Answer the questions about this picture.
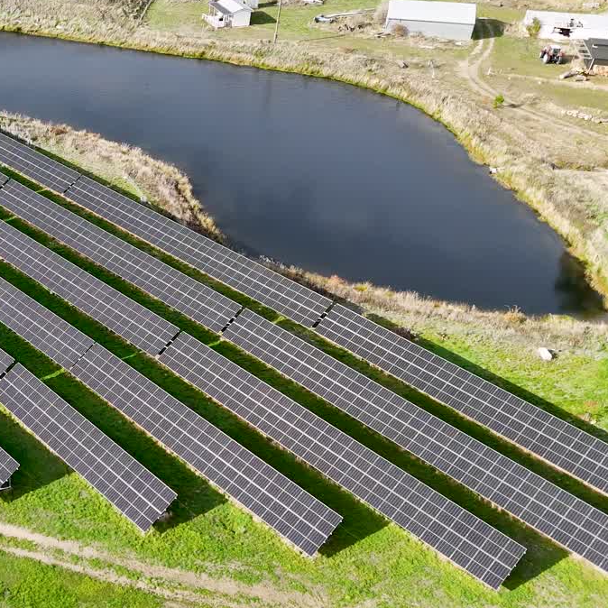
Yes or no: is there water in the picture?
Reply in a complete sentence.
Yes, the picture does contain water.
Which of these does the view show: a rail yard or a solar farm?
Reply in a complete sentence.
The area seen from above is a solar farm.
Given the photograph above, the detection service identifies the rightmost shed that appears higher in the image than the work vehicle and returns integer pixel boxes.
[517,6,608,41]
